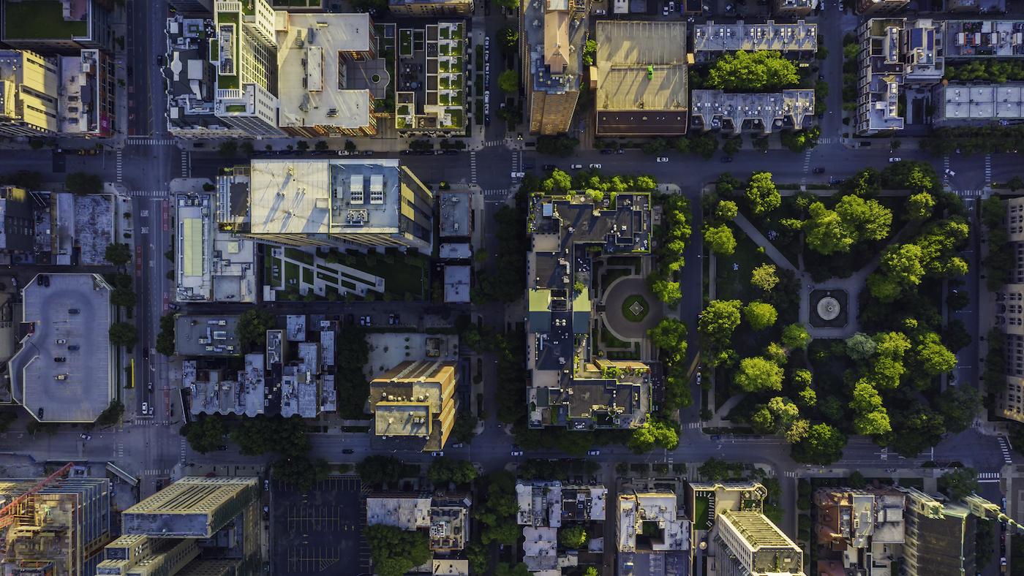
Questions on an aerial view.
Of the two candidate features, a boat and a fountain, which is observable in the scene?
fountain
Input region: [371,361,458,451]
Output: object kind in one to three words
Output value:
building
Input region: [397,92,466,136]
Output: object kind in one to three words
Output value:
house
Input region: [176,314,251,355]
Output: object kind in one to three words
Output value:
building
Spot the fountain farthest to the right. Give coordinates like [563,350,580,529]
[809,289,848,328]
